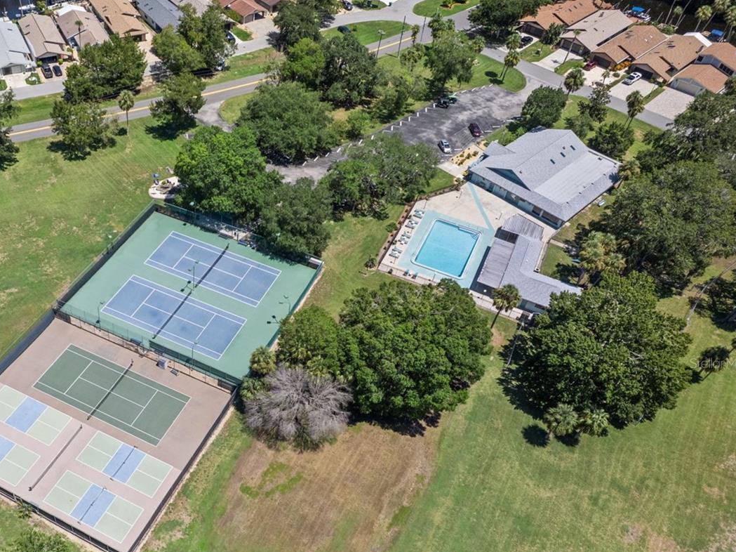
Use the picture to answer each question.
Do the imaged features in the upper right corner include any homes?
Yes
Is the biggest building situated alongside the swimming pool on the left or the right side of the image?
right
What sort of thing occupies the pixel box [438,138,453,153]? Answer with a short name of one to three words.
car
